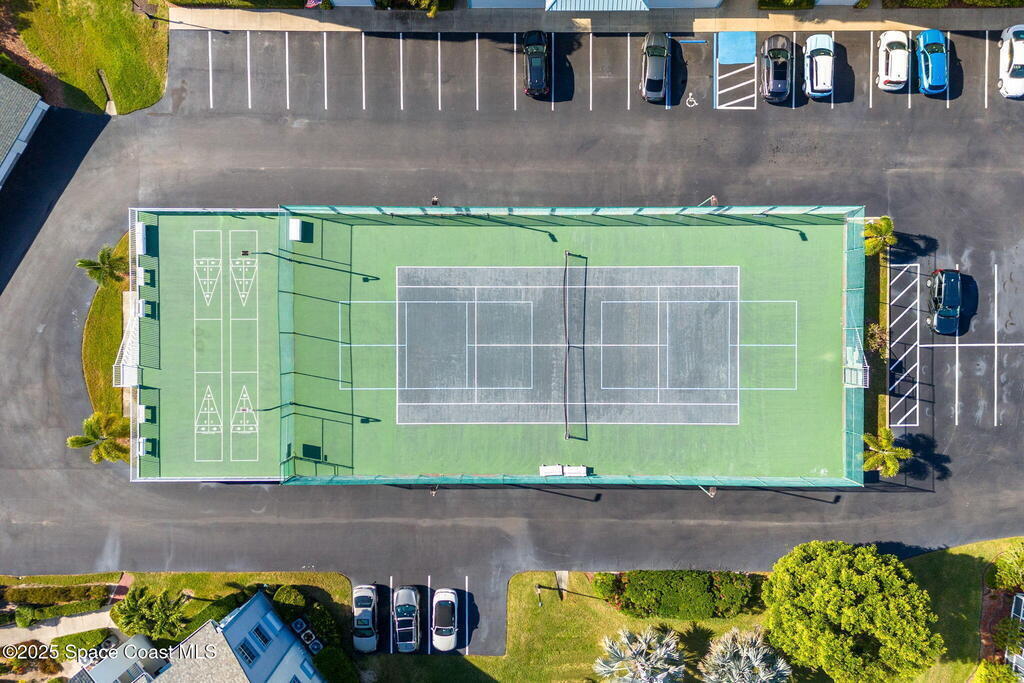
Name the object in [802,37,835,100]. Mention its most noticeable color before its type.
white car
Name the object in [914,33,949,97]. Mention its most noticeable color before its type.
blue car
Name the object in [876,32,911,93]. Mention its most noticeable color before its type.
white car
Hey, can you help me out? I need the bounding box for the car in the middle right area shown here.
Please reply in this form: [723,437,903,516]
[926,270,963,335]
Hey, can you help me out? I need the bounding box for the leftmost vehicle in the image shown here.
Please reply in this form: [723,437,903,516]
[350,584,379,651]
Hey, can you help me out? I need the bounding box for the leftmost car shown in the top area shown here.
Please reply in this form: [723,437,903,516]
[521,32,550,99]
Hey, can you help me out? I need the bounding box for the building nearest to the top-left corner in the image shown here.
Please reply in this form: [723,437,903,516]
[0,73,48,186]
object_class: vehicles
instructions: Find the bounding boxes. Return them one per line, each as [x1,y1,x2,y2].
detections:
[914,33,949,97]
[998,28,1024,98]
[391,585,421,654]
[802,37,835,100]
[926,270,963,335]
[641,34,671,104]
[760,37,793,104]
[350,584,379,651]
[431,587,459,651]
[876,32,911,93]
[521,32,550,99]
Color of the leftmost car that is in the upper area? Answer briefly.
black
